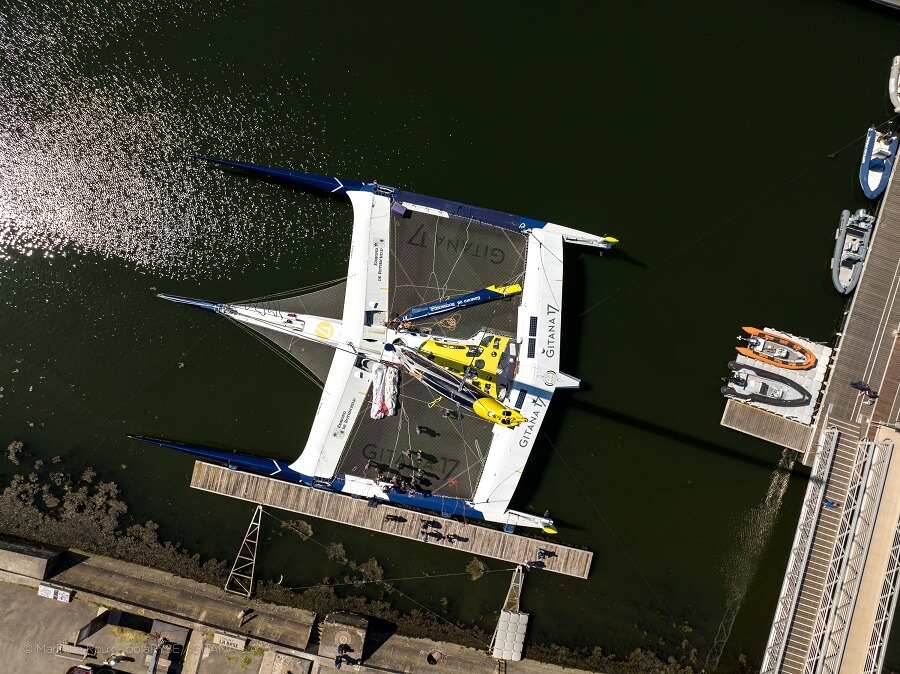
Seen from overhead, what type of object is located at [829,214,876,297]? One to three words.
boat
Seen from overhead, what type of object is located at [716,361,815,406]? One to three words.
boat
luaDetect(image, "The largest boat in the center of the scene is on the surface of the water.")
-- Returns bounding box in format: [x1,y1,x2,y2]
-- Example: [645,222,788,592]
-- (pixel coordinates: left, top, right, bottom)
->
[127,156,618,533]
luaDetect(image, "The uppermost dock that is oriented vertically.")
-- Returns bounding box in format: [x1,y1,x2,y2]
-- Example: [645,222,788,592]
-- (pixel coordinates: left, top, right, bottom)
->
[802,146,900,470]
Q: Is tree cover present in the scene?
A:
No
